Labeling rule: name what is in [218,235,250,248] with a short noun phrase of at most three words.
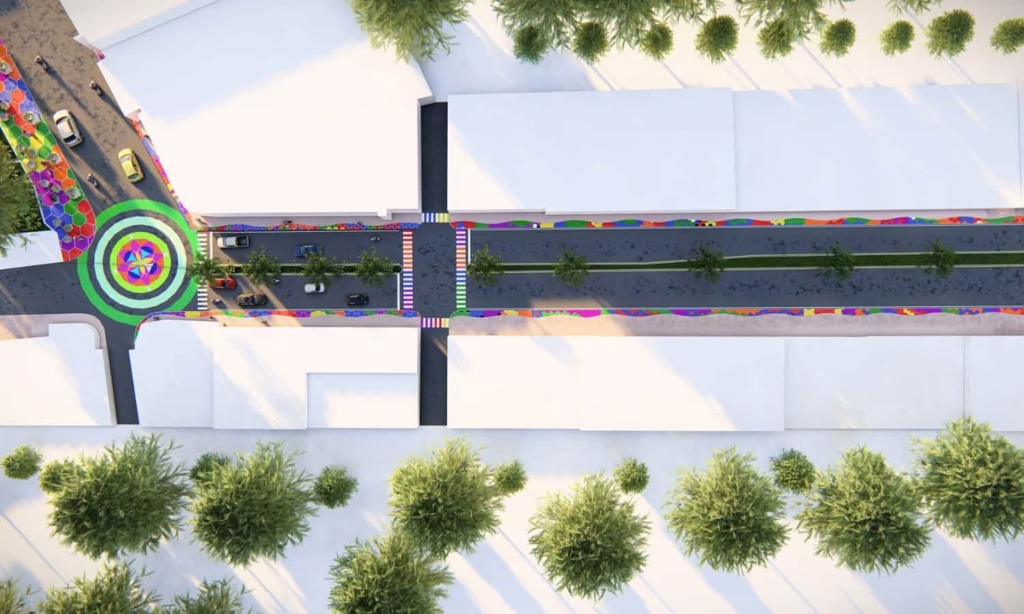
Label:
vehicle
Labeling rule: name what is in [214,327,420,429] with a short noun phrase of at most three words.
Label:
building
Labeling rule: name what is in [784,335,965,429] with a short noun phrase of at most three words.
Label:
building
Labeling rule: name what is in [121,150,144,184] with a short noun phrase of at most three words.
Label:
car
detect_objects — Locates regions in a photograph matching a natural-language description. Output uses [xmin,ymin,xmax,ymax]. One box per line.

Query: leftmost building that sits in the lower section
[0,323,121,426]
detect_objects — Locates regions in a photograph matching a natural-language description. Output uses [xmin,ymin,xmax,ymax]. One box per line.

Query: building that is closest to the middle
[448,335,581,428]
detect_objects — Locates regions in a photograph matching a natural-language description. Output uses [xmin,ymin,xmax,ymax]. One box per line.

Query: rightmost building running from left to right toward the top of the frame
[729,83,1020,214]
